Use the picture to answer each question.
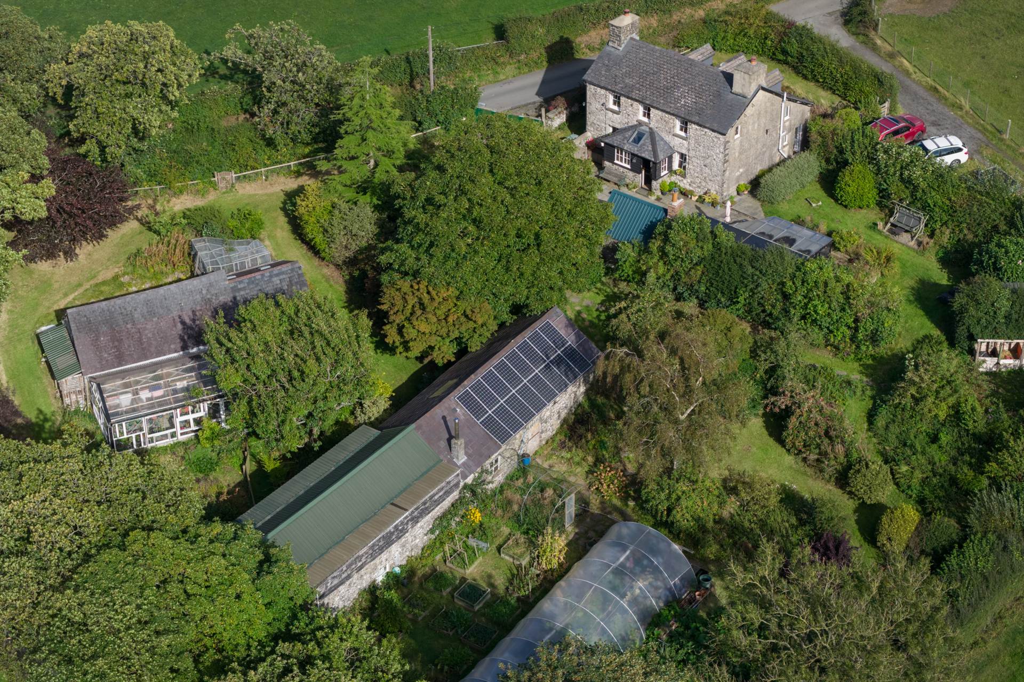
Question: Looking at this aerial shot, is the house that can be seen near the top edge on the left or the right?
right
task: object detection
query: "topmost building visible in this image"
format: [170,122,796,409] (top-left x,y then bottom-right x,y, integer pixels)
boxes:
[582,11,814,197]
